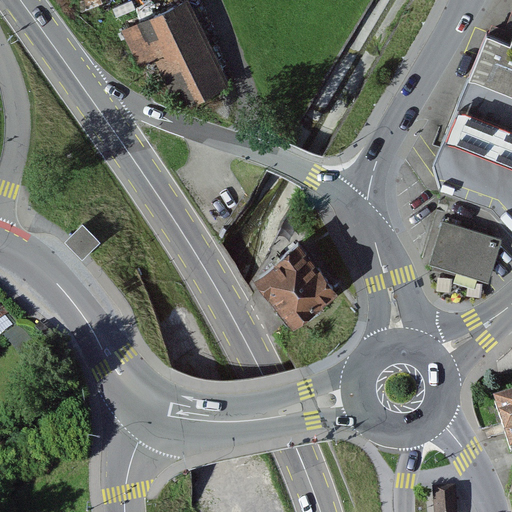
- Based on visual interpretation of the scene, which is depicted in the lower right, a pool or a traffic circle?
traffic circle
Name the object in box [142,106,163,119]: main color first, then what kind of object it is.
white vehicle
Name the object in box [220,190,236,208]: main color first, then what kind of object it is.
white car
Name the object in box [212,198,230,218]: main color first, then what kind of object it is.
gray car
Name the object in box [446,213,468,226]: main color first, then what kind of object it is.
black vehicle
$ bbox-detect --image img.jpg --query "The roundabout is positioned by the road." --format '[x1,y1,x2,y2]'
[340,327,462,449]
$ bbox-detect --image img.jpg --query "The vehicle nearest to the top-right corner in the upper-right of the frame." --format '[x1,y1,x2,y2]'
[457,13,472,33]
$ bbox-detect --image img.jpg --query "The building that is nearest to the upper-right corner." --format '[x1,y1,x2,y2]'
[470,34,512,98]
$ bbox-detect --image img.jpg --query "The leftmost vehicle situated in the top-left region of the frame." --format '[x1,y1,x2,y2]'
[30,8,48,29]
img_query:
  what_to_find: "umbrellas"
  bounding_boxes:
[452,293,461,303]
[436,278,452,292]
[466,284,482,298]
